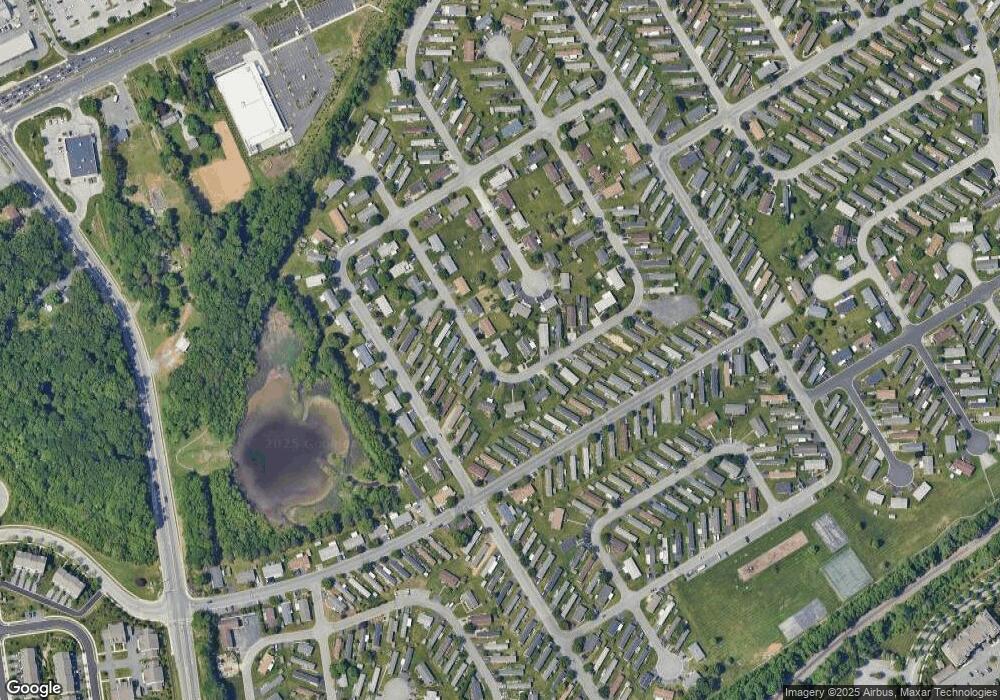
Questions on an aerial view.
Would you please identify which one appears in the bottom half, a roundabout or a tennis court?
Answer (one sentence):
It is a tennis court that can be seen in the bottom half.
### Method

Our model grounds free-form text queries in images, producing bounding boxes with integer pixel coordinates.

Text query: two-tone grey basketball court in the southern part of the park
[778,598,827,641]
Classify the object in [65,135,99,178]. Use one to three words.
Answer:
building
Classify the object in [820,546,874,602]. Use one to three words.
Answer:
tennis court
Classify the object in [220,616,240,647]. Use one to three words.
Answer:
building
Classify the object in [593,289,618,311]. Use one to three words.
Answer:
house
